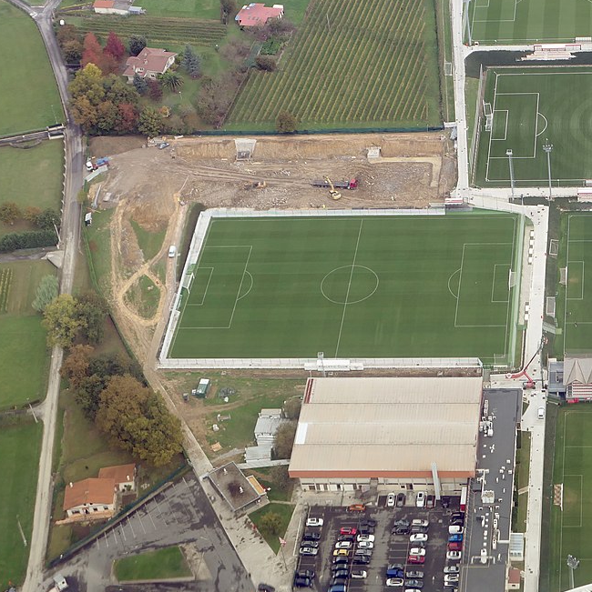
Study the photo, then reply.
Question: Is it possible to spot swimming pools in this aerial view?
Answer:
No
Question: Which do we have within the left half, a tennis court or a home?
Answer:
home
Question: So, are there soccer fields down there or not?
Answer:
Yes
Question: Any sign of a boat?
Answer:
No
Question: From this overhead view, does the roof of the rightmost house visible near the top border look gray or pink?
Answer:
pink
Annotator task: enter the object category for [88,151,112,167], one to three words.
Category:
vehicle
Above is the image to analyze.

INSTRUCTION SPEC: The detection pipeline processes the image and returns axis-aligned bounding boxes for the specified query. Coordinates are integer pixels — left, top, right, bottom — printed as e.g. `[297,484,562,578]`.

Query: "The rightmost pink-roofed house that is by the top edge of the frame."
[237,3,283,33]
